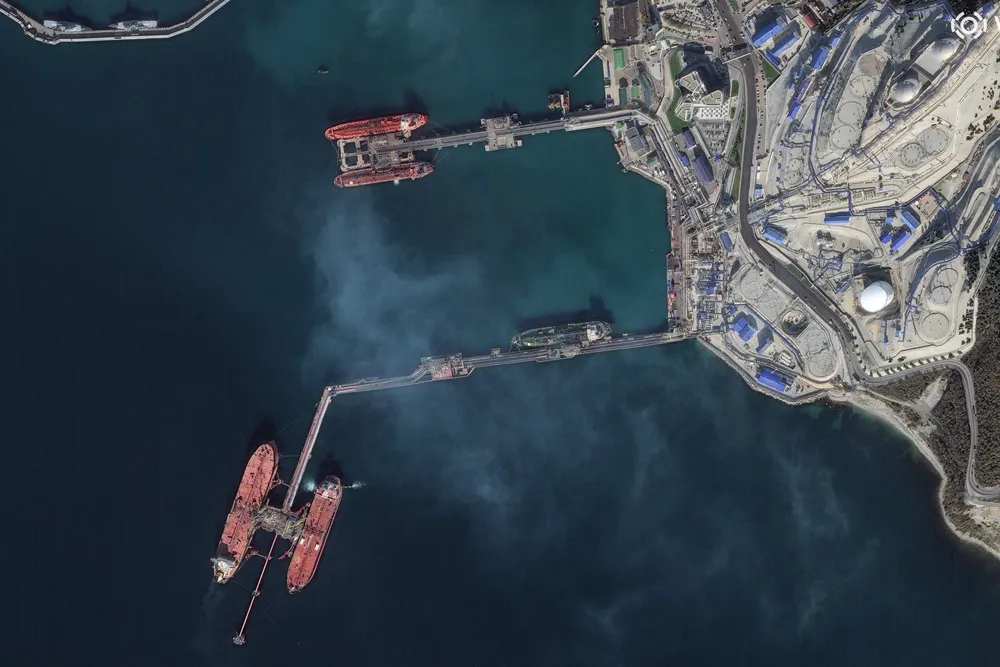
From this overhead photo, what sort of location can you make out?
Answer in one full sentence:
The picture captures a port.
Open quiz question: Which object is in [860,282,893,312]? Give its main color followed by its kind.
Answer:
white storage tank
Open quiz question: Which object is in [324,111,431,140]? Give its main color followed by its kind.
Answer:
red ship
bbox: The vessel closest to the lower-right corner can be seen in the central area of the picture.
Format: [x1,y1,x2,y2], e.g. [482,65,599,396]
[512,321,615,351]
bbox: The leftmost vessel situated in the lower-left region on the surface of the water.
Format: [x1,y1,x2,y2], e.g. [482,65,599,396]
[210,442,276,585]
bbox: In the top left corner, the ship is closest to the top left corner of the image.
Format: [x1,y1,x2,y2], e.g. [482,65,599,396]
[43,20,93,33]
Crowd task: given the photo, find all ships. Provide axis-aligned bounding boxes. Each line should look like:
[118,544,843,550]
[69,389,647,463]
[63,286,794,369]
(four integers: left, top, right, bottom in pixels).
[549,93,562,109]
[333,162,437,188]
[324,111,431,140]
[512,321,615,351]
[285,473,341,593]
[210,442,276,585]
[43,20,93,33]
[107,20,159,28]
